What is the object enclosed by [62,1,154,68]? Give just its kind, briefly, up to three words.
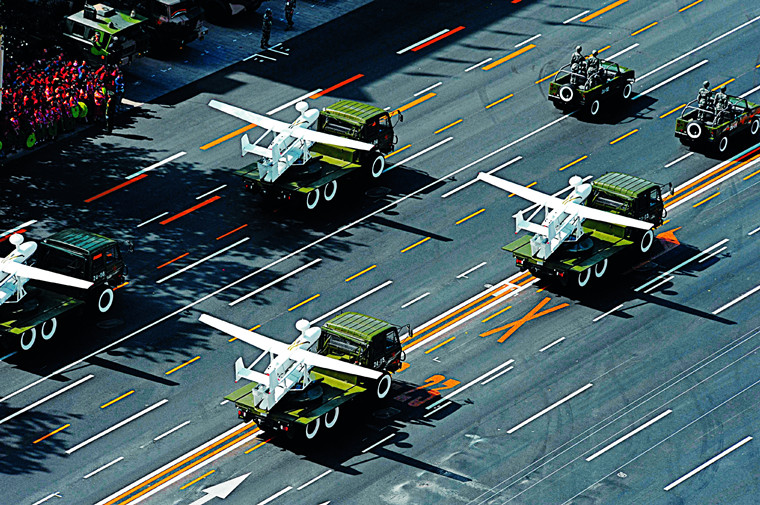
vehicle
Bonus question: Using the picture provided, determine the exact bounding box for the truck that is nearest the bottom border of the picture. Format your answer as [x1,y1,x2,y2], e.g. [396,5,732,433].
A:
[226,307,413,439]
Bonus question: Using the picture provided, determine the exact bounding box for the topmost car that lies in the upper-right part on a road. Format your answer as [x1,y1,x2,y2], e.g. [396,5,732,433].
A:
[550,55,636,115]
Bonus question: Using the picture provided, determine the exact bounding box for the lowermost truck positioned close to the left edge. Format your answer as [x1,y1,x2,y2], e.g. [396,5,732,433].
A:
[0,224,132,349]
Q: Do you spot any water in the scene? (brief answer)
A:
No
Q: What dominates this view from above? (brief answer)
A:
paved ground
